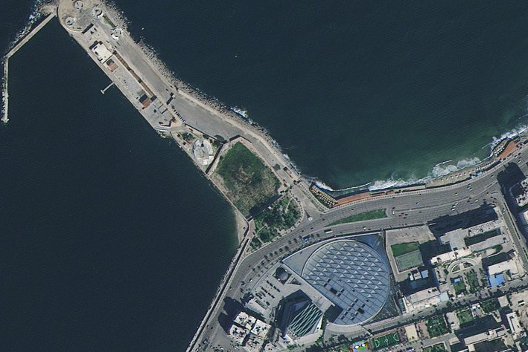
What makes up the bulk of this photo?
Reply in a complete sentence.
Most of the picture is covered by water.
